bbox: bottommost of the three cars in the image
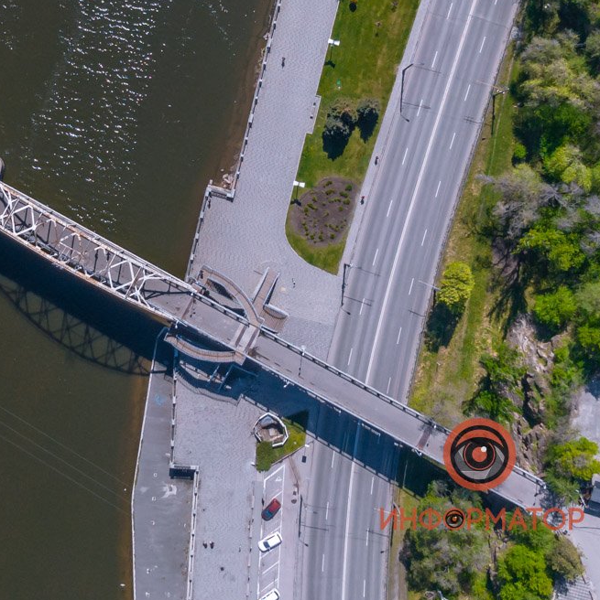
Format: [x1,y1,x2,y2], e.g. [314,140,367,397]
[254,587,280,600]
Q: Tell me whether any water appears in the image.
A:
Yes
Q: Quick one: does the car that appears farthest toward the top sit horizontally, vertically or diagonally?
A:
diagonally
